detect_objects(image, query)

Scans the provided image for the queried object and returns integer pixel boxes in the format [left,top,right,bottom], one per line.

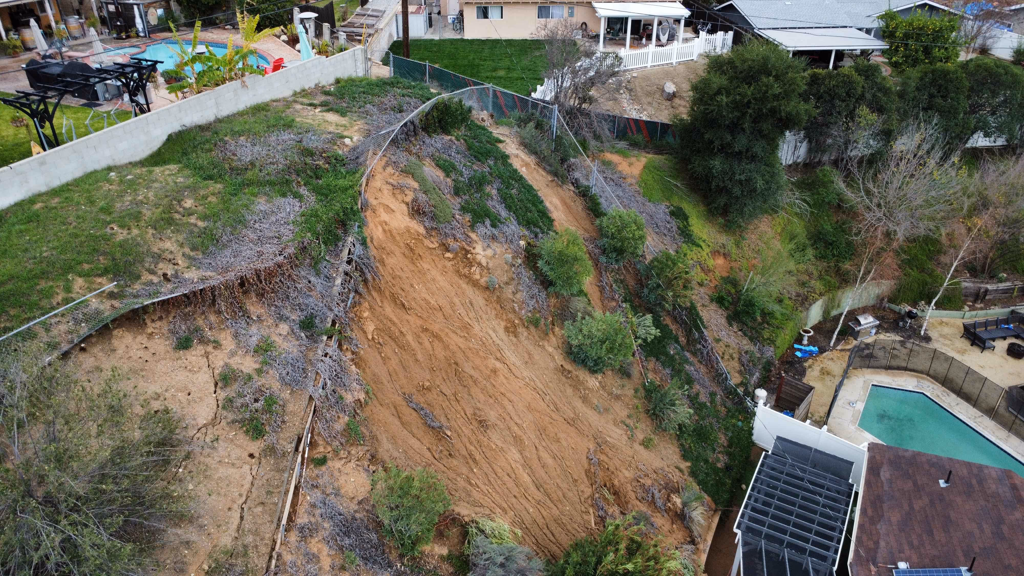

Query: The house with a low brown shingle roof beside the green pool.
[840,440,1024,576]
